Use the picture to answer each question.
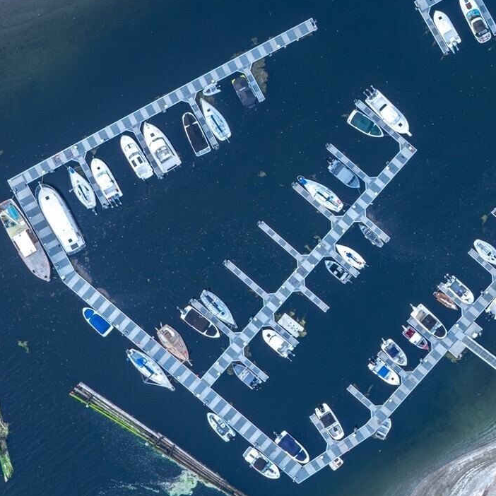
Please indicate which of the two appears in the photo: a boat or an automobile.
boat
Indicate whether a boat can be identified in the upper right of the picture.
Yes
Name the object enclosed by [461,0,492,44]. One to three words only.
boat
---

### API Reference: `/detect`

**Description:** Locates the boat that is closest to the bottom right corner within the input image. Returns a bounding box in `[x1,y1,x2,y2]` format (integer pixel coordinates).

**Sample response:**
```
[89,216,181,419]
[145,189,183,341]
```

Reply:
[374,418,390,441]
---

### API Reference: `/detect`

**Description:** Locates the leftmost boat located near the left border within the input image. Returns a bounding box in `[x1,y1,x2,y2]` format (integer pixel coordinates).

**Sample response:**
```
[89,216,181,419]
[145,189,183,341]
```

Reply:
[0,197,49,281]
